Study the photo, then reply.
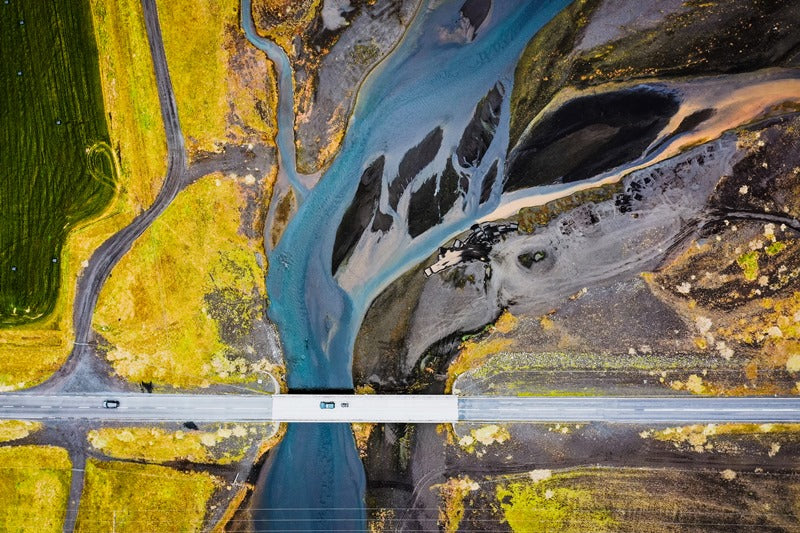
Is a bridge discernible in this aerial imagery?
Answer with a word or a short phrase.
Yes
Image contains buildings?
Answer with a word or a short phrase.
No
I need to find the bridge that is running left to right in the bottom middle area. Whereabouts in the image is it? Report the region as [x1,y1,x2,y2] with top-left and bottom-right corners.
[272,394,459,427]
